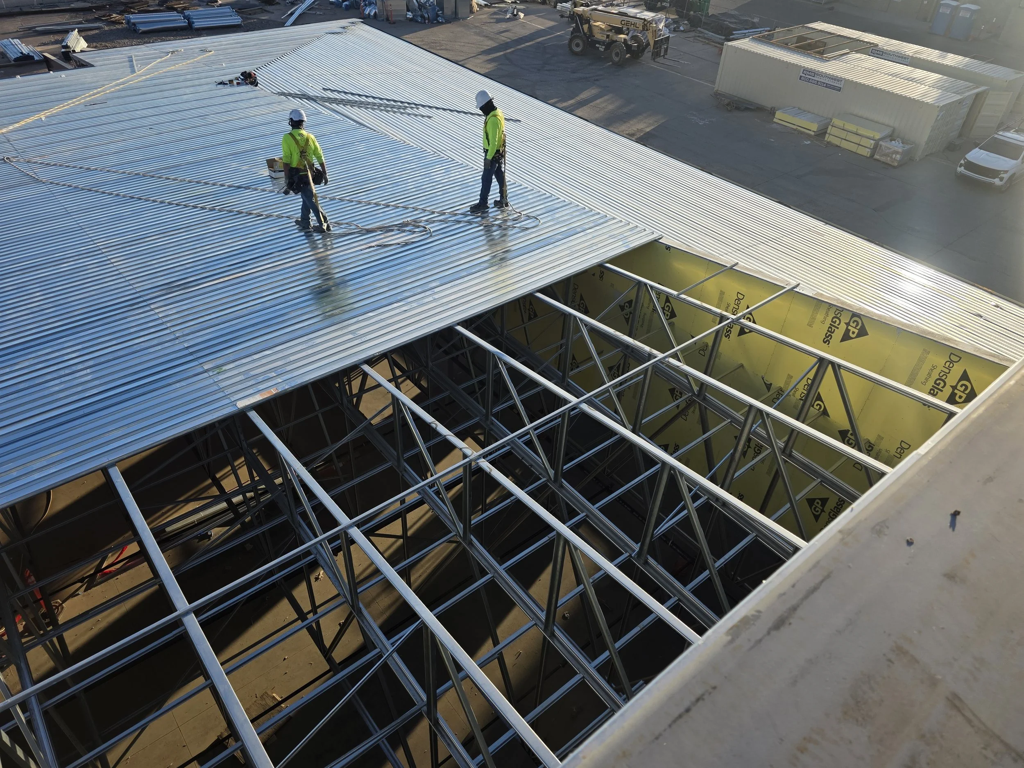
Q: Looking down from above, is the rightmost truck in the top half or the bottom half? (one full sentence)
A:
The top half of the photo is where the rightmost truck is.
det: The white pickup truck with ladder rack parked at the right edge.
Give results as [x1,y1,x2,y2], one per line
[956,114,1024,192]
